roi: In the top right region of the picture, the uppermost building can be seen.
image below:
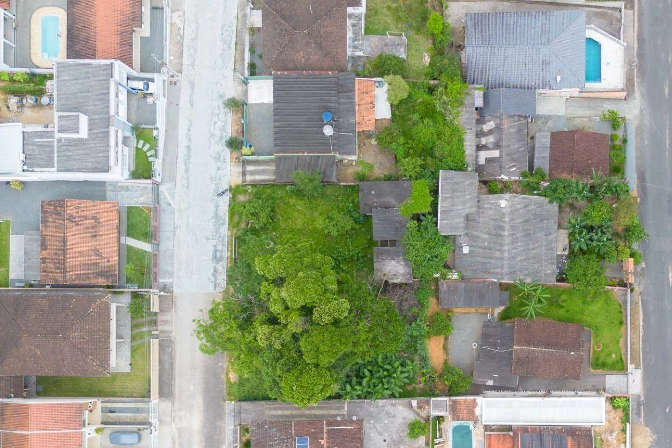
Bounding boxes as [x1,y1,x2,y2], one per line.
[464,10,586,98]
